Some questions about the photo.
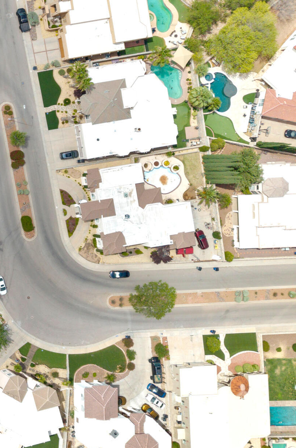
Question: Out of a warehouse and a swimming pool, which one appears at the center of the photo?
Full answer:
The feature located at the center of the photo is a swimming pool.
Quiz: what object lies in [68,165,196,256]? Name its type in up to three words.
house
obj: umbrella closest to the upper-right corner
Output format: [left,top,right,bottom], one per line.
[223,83,236,96]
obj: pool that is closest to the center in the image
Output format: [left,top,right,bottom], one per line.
[143,166,183,195]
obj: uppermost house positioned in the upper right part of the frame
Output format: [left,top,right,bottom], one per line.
[249,27,296,123]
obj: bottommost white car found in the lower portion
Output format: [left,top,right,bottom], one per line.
[145,393,165,410]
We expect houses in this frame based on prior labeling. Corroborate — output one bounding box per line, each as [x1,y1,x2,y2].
[68,165,196,256]
[249,27,296,123]
[65,377,171,448]
[0,366,64,448]
[68,59,178,159]
[51,0,153,62]
[163,358,270,448]
[225,160,296,249]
